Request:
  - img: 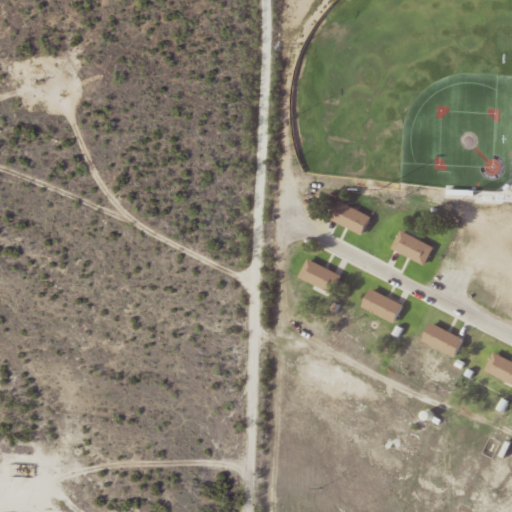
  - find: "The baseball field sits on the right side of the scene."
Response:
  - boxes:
[292,0,512,191]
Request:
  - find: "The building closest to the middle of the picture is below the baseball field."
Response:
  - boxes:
[298,258,340,294]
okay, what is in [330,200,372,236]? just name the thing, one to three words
house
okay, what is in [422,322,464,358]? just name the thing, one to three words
house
